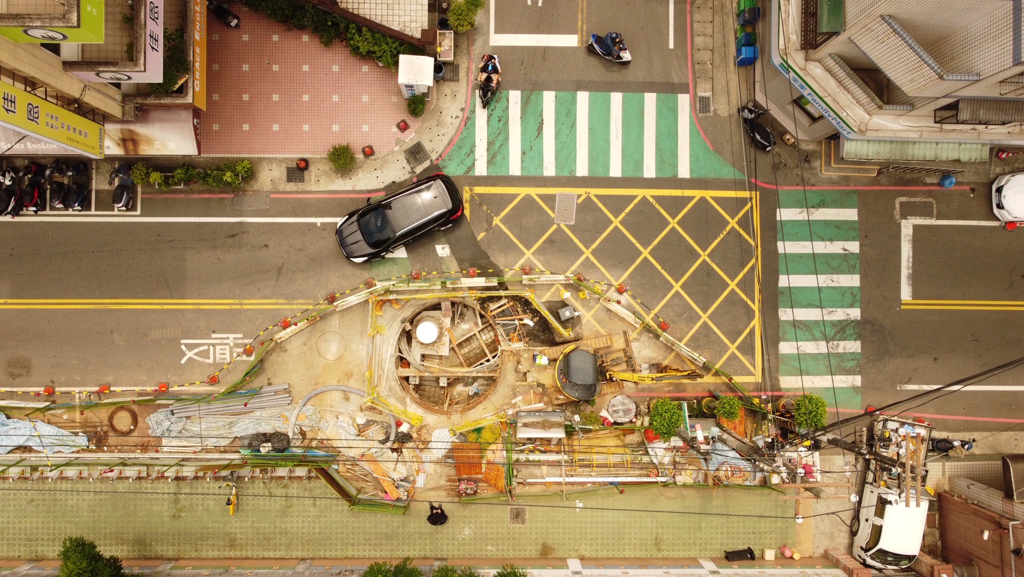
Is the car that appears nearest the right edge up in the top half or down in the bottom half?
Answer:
top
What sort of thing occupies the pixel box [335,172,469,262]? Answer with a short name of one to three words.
car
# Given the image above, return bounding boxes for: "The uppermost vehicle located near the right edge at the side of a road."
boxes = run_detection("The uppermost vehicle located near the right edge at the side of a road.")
[992,172,1024,224]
